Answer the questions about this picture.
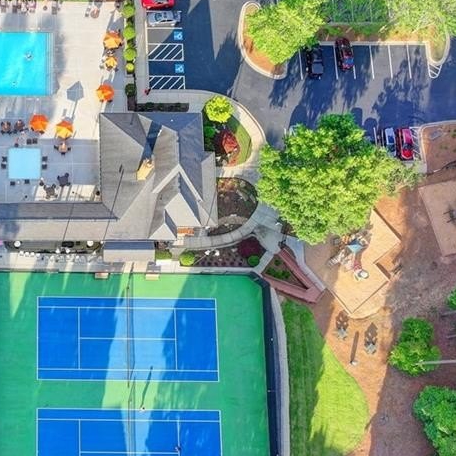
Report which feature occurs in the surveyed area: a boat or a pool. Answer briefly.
pool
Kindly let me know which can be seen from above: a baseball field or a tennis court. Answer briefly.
tennis court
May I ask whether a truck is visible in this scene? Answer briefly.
No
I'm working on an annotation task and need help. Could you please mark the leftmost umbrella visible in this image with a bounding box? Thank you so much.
[31,115,48,132]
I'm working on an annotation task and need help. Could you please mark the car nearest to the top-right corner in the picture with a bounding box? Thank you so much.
[334,39,354,71]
